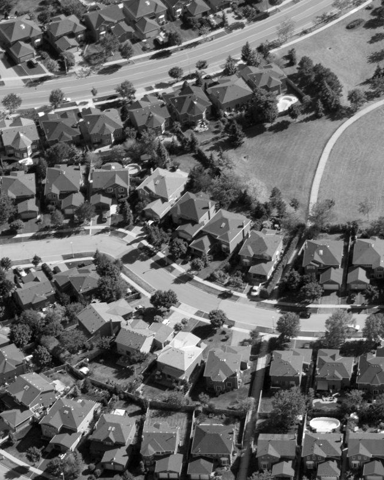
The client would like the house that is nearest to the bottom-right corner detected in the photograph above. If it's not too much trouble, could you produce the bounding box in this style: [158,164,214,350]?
[347,428,384,480]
